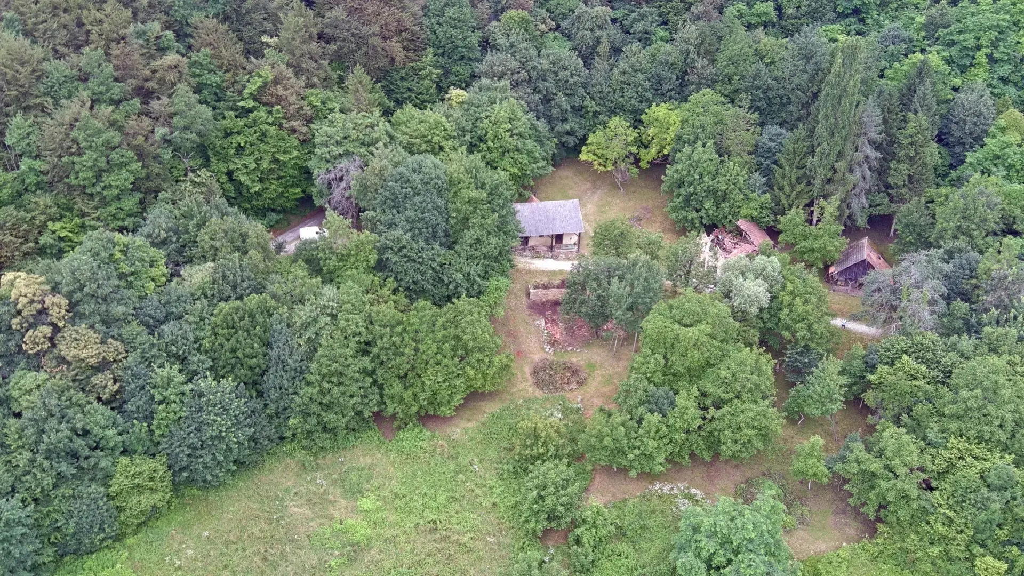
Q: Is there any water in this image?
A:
No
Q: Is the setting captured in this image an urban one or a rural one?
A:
rural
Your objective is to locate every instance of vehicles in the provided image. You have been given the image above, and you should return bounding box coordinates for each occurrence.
[295,225,328,244]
